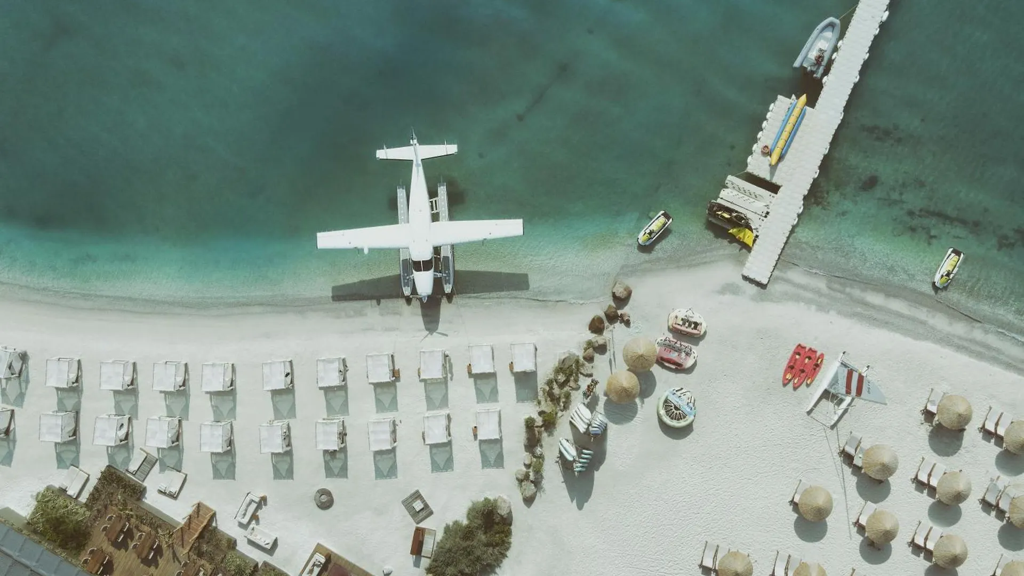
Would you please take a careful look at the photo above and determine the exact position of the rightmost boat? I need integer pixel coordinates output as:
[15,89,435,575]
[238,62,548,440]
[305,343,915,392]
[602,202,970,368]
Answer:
[935,248,962,289]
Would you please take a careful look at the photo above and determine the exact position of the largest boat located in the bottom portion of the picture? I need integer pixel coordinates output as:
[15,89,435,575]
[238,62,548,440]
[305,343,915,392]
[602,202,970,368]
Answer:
[807,350,888,427]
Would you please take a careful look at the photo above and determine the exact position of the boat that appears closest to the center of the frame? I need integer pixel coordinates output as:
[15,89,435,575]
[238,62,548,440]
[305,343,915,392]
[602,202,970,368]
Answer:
[641,209,673,245]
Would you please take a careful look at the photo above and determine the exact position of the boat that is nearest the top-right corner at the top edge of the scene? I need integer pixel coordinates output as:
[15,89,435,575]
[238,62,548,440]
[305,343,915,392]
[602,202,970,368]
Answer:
[792,15,839,80]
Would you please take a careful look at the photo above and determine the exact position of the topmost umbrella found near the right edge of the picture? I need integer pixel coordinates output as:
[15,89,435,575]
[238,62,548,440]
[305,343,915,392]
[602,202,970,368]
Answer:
[935,393,973,431]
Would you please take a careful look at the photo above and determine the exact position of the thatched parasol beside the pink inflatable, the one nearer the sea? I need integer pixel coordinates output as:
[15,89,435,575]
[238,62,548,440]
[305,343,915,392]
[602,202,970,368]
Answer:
[620,334,659,373]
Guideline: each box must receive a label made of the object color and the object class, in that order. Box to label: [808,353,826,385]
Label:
red boat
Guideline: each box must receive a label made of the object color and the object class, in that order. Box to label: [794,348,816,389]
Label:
red boat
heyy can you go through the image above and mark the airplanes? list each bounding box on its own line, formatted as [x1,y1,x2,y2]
[315,129,522,303]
